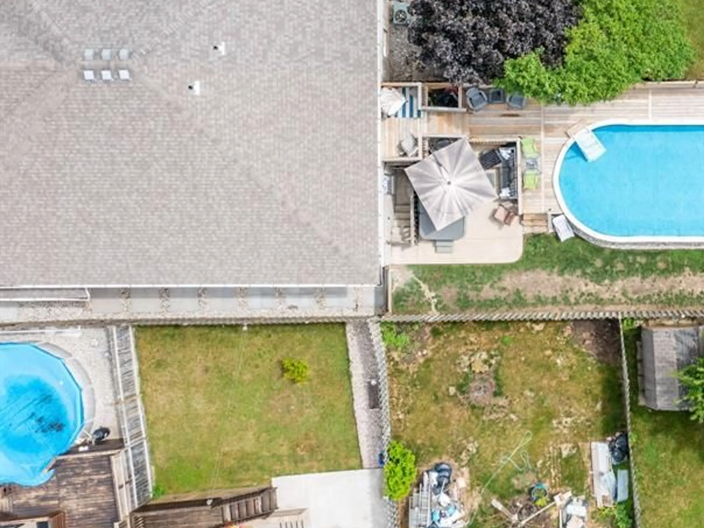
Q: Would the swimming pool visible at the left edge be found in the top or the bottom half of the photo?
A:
bottom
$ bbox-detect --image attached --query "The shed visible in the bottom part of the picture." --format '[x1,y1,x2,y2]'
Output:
[633,324,704,410]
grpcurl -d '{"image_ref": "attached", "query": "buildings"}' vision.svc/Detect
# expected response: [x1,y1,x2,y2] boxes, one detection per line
[0,0,388,302]
[633,324,704,410]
